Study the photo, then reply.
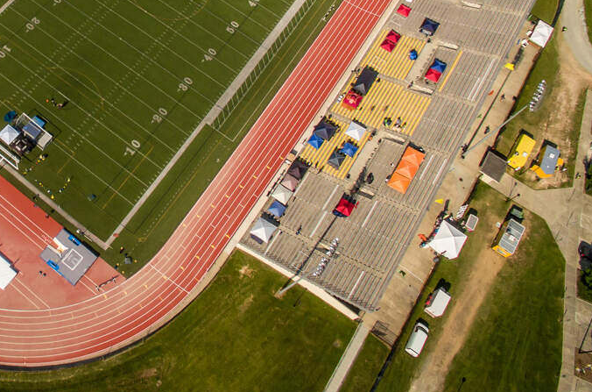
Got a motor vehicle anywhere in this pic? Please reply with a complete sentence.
Yes, a motor vehicle is visible in the scene.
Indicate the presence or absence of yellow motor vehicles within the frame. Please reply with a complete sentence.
Yes, a yellow motor vehicle appears in the view.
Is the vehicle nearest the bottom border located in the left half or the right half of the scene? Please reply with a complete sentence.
The vehicle nearest the bottom border appears in the right half of the scene.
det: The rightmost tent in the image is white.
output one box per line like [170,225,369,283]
[522,23,554,48]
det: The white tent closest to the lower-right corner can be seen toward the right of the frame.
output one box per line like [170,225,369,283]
[424,218,471,263]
